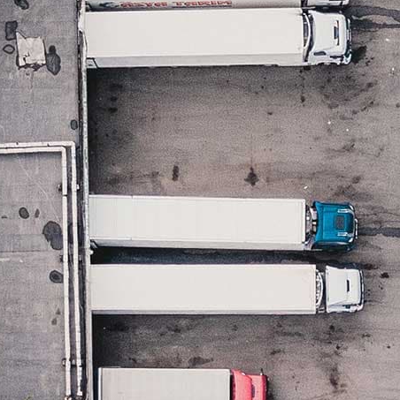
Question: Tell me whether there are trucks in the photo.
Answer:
Yes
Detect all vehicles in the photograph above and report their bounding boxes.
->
[86,0,351,12]
[86,7,353,70]
[99,368,268,400]
[91,264,364,316]
[90,195,362,252]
